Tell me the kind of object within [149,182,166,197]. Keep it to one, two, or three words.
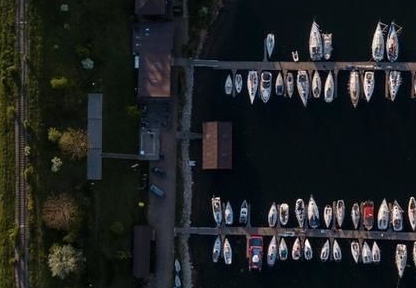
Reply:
vehicle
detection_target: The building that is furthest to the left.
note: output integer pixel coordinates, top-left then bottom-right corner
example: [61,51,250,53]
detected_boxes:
[88,95,105,180]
